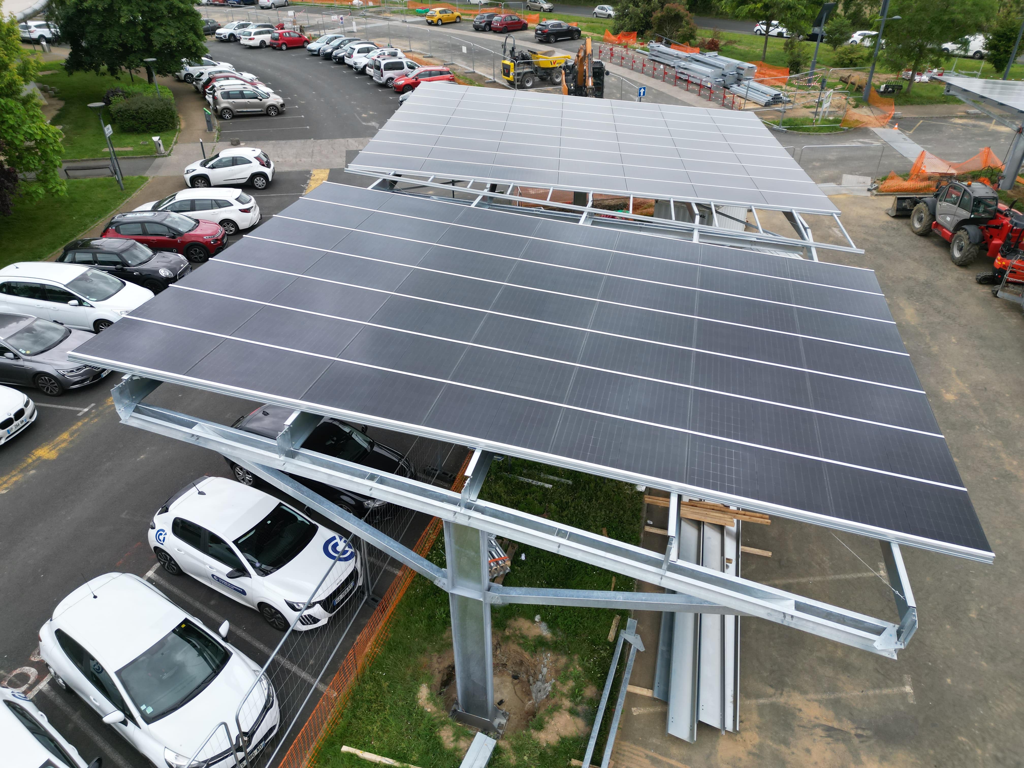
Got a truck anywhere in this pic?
Yes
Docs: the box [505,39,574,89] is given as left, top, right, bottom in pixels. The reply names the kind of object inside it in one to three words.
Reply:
truck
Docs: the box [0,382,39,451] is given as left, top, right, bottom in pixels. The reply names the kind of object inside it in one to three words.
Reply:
car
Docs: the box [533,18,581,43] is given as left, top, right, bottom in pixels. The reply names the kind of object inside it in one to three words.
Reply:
car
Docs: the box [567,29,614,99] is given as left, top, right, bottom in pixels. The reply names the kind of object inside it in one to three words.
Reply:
work vehicle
